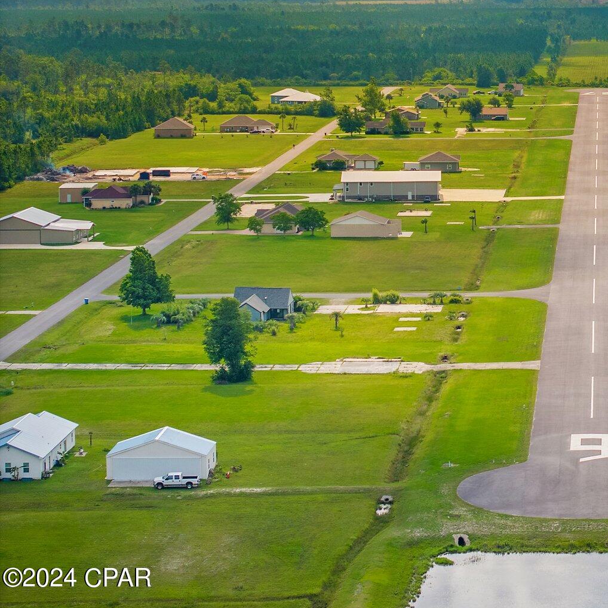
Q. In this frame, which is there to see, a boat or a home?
home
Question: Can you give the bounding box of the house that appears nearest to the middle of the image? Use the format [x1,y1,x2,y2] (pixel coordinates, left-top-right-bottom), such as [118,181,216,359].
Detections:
[234,288,294,320]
